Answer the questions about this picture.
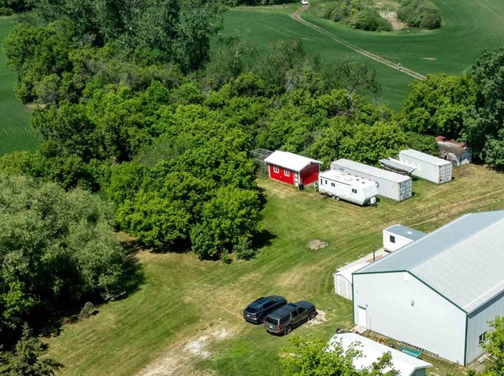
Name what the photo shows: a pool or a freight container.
freight container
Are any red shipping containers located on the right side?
No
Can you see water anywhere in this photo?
No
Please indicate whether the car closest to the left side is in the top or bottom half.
bottom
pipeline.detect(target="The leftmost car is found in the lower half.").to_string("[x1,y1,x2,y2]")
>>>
[244,295,292,325]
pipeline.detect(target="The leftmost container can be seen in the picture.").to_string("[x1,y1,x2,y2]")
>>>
[332,158,412,200]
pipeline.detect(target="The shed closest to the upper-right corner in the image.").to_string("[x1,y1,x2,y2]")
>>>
[424,132,474,166]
